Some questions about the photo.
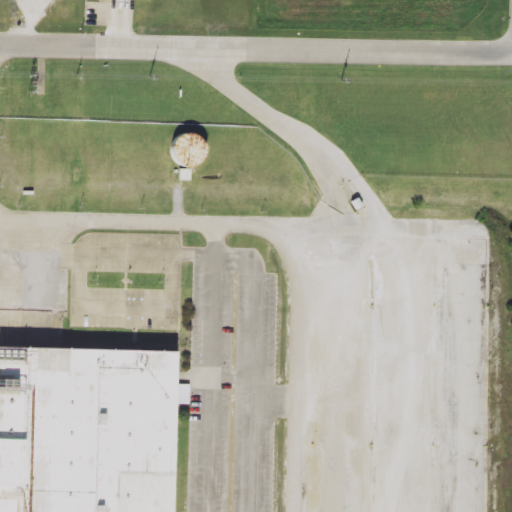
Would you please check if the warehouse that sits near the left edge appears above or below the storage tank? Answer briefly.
below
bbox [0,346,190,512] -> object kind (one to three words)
warehouse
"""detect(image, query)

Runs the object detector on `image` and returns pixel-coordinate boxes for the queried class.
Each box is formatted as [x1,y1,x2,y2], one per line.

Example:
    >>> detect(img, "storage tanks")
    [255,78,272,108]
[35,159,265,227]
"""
[170,133,208,168]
